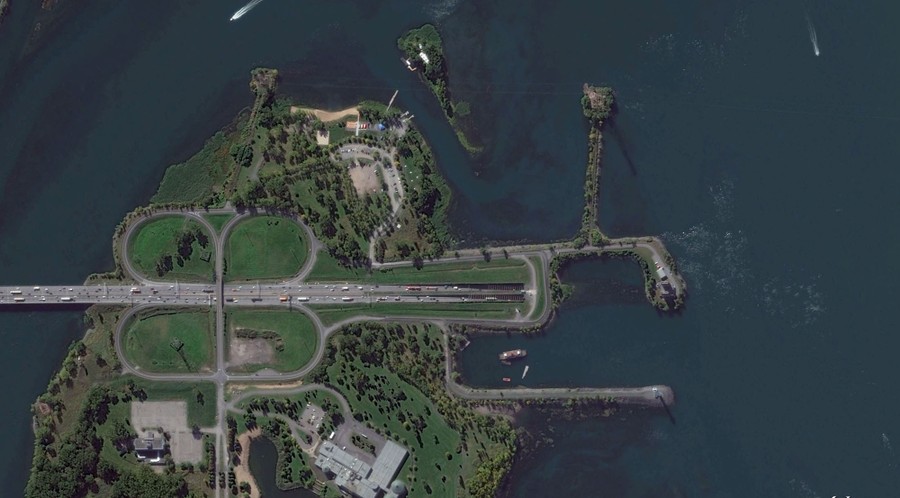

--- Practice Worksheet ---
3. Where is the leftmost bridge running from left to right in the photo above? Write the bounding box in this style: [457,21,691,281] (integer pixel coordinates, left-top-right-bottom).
[0,285,89,305]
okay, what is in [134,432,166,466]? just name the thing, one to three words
building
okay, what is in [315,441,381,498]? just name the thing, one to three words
building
